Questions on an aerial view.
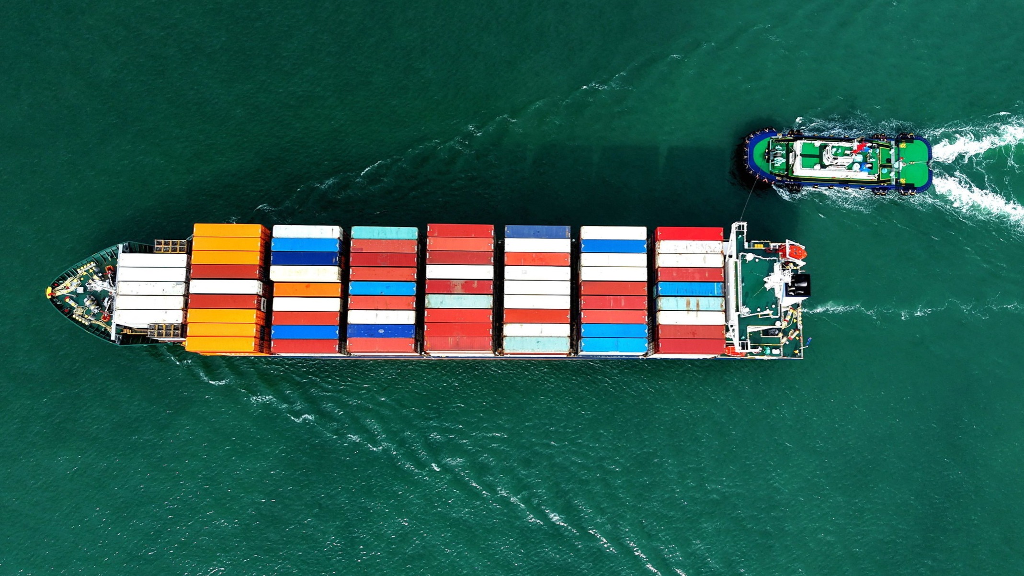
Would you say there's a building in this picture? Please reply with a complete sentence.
No, no building can be seen from above.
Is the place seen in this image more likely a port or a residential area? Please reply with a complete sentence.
What you see here is a port.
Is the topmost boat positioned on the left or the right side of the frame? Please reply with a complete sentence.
You can find the topmost boat on the right side of the picture.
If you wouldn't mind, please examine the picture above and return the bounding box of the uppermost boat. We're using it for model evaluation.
[739,126,933,195]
